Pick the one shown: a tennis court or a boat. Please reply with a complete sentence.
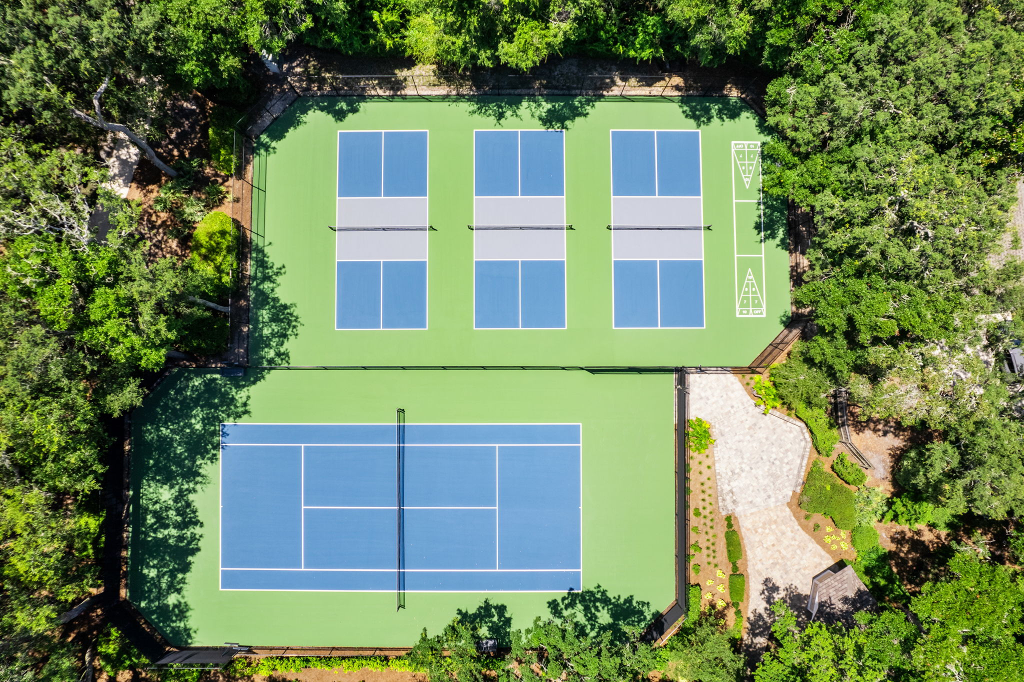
It is a tennis court that can be seen here.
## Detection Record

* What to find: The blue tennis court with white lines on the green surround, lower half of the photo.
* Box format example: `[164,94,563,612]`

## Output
[127,369,676,648]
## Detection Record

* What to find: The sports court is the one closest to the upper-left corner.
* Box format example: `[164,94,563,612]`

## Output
[336,130,428,330]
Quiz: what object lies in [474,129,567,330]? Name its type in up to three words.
sports court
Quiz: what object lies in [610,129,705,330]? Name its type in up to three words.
sports court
